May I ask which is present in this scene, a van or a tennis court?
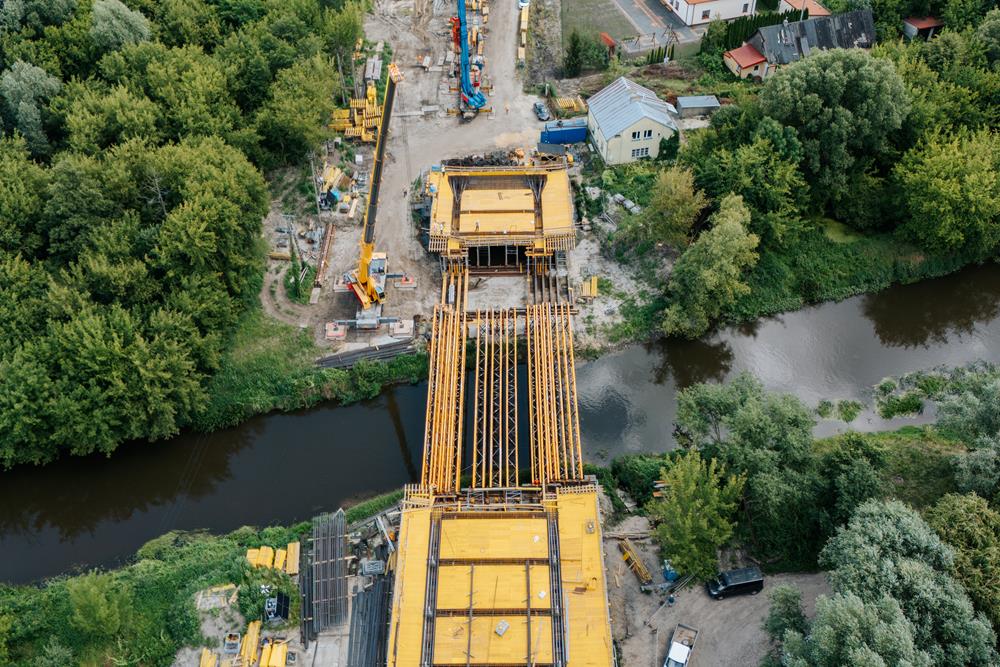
van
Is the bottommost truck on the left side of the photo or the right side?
right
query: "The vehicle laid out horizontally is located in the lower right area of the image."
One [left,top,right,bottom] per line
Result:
[707,562,771,597]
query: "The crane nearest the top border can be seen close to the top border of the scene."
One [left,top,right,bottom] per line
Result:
[438,0,502,118]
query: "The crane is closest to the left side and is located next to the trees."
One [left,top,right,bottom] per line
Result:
[322,58,417,338]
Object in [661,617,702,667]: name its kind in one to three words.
truck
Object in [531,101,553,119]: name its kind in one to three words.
car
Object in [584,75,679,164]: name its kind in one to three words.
house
